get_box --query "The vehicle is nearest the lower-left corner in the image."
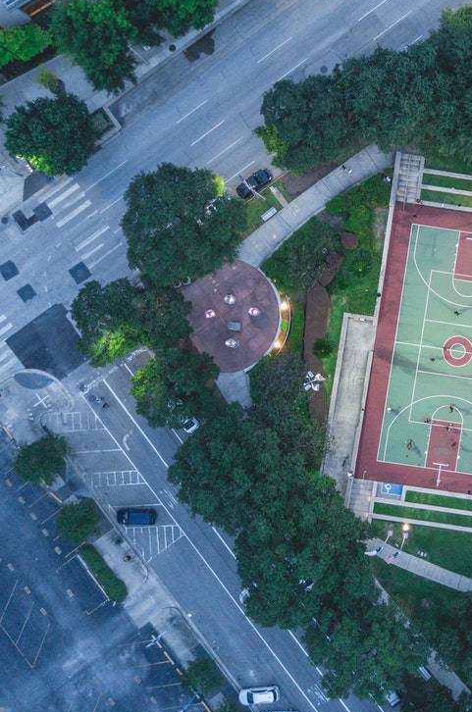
[116,507,159,528]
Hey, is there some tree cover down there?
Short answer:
Yes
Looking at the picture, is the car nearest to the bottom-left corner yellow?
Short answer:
No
